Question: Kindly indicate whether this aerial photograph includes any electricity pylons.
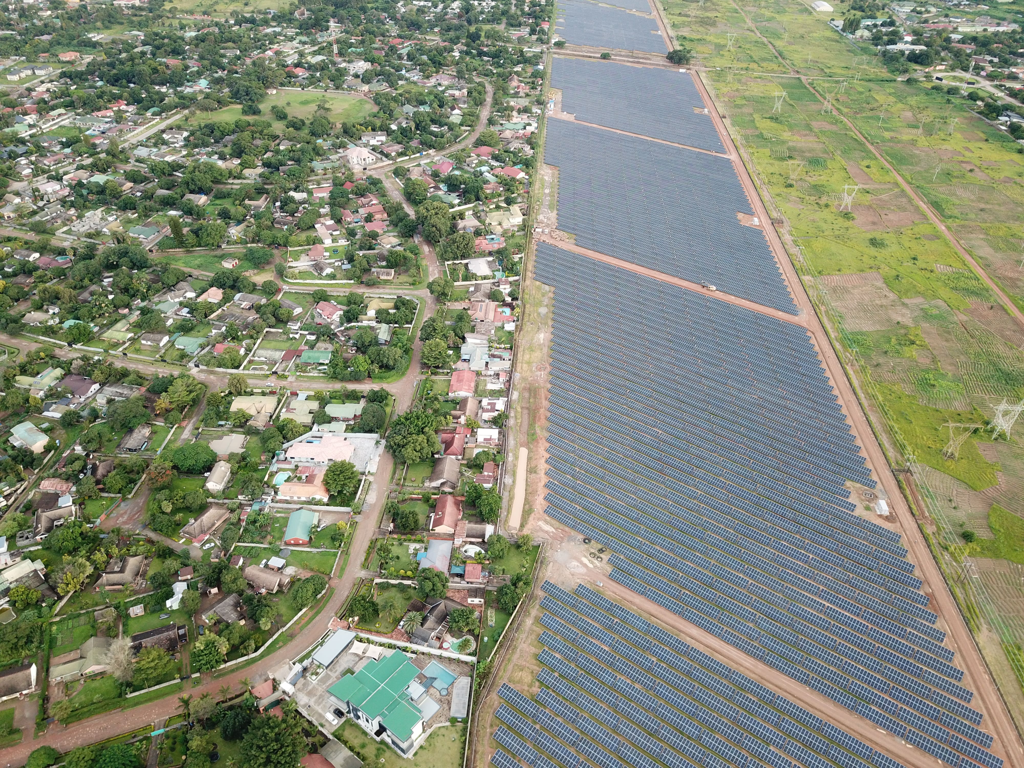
Yes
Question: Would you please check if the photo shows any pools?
Yes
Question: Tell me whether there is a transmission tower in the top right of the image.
Yes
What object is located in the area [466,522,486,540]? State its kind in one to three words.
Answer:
shed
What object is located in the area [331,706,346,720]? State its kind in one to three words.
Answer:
car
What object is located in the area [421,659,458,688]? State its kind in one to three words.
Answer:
swimming pool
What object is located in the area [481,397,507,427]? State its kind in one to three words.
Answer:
house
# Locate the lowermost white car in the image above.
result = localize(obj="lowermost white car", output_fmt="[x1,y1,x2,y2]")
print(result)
[324,711,339,726]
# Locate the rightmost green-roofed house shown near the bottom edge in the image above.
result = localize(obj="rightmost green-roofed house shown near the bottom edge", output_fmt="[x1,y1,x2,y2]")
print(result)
[326,649,441,756]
